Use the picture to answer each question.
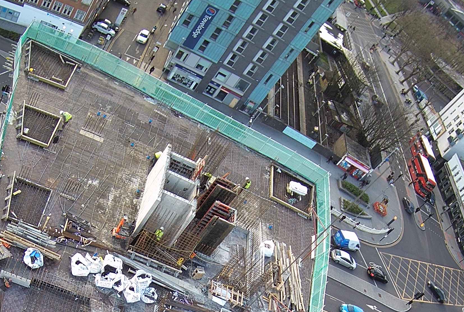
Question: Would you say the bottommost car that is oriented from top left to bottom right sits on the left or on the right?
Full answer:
The bottommost car that is oriented from top left to bottom right sits on the right side.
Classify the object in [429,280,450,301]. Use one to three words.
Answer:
car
